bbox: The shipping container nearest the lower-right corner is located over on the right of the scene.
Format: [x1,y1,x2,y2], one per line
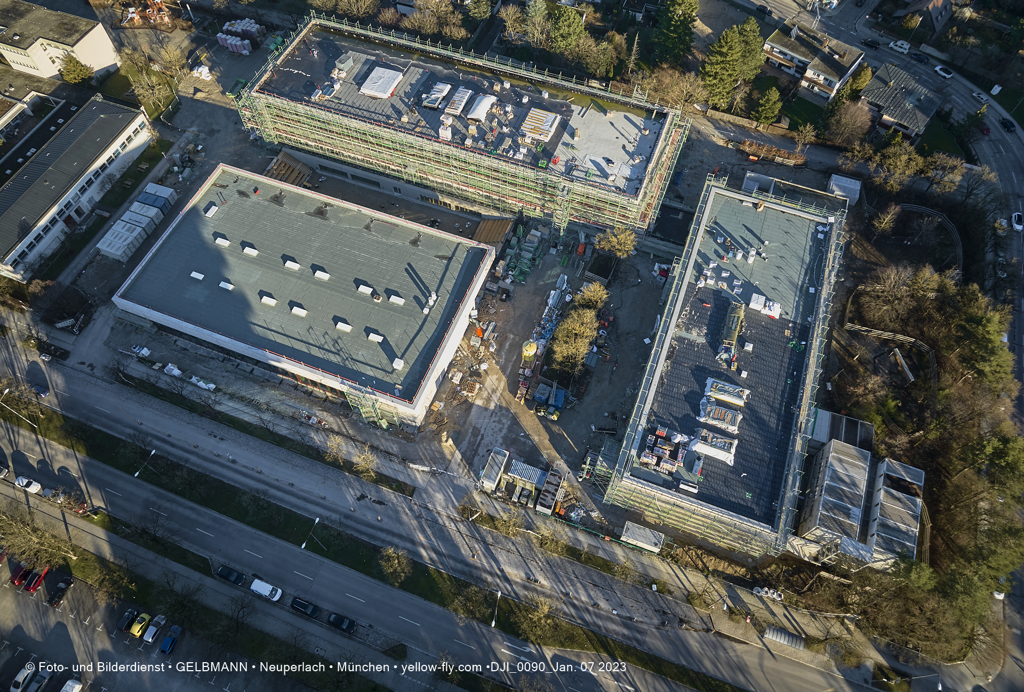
[618,522,665,555]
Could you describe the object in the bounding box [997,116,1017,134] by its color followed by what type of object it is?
black car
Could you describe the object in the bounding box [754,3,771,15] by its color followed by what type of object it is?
black vehicle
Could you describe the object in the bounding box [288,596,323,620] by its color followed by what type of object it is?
black vehicle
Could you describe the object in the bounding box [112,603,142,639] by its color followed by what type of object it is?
black car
